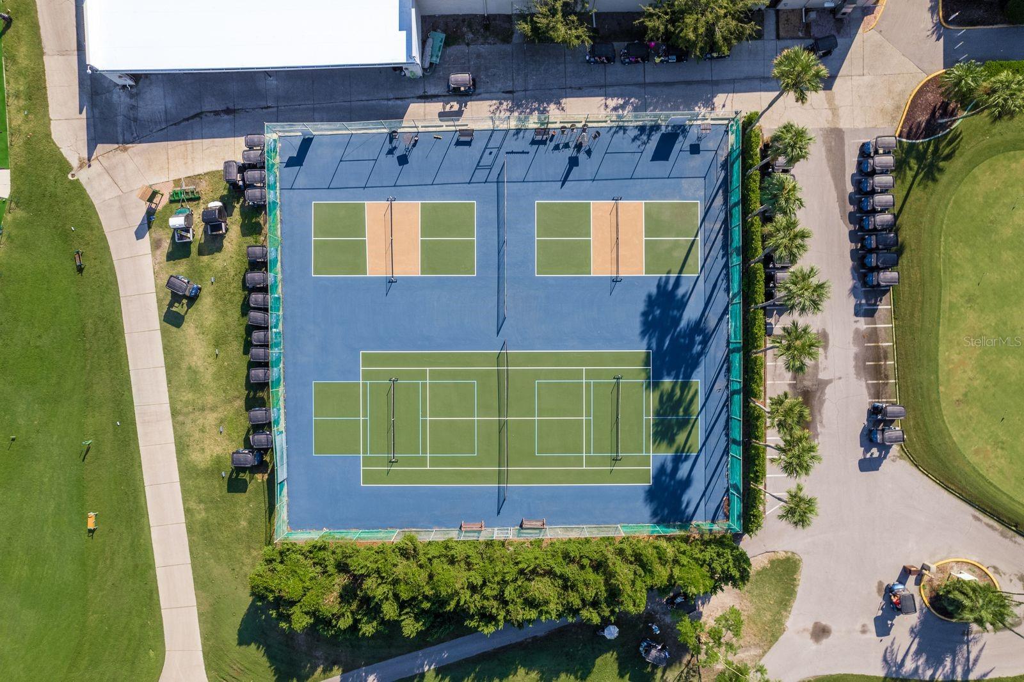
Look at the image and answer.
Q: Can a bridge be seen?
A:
No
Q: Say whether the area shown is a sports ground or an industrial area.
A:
sports ground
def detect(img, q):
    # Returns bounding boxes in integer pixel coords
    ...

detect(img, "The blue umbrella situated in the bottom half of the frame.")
[600,624,615,640]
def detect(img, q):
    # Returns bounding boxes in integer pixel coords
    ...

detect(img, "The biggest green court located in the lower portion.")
[361,350,652,486]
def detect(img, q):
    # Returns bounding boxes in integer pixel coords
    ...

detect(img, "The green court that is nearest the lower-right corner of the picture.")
[536,381,700,455]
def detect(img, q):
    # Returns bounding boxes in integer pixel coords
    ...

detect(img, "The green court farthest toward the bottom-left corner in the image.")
[313,382,476,456]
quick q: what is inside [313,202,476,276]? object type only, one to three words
sports court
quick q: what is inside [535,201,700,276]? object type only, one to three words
sports court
